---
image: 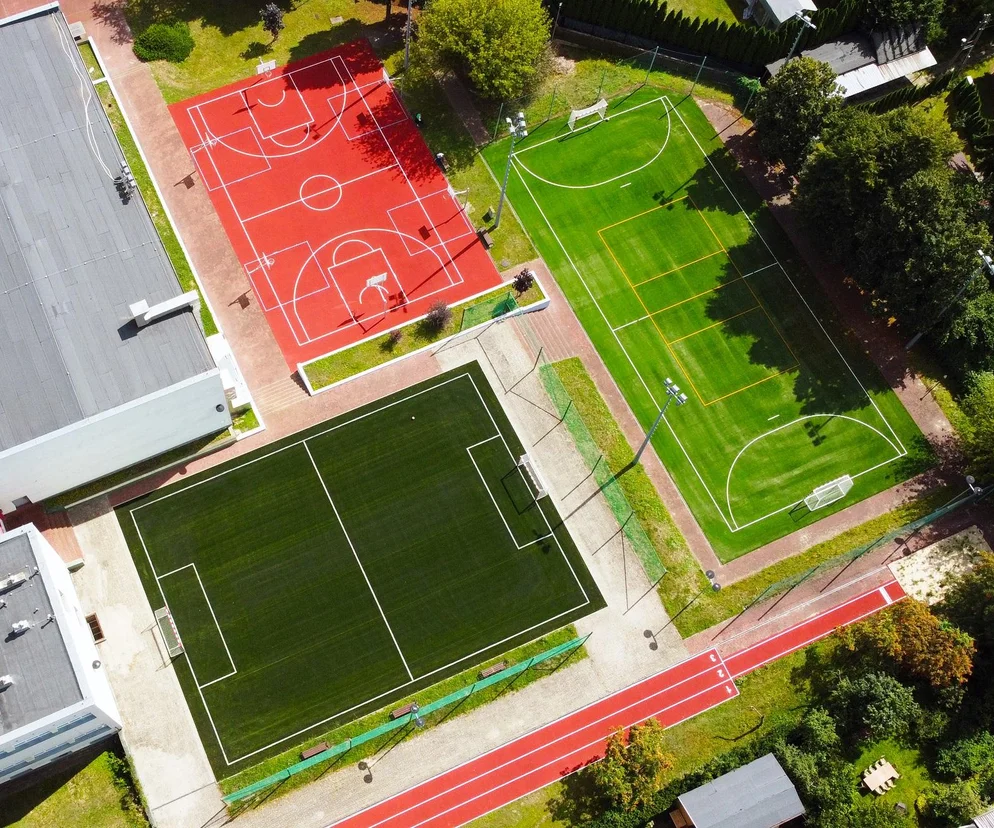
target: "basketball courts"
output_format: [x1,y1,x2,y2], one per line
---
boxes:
[170,39,502,371]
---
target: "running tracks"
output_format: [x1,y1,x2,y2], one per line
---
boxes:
[329,647,741,828]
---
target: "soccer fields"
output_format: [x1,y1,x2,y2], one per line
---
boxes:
[480,86,937,563]
[116,360,606,779]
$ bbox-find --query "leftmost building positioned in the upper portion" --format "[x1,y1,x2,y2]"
[0,0,231,518]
